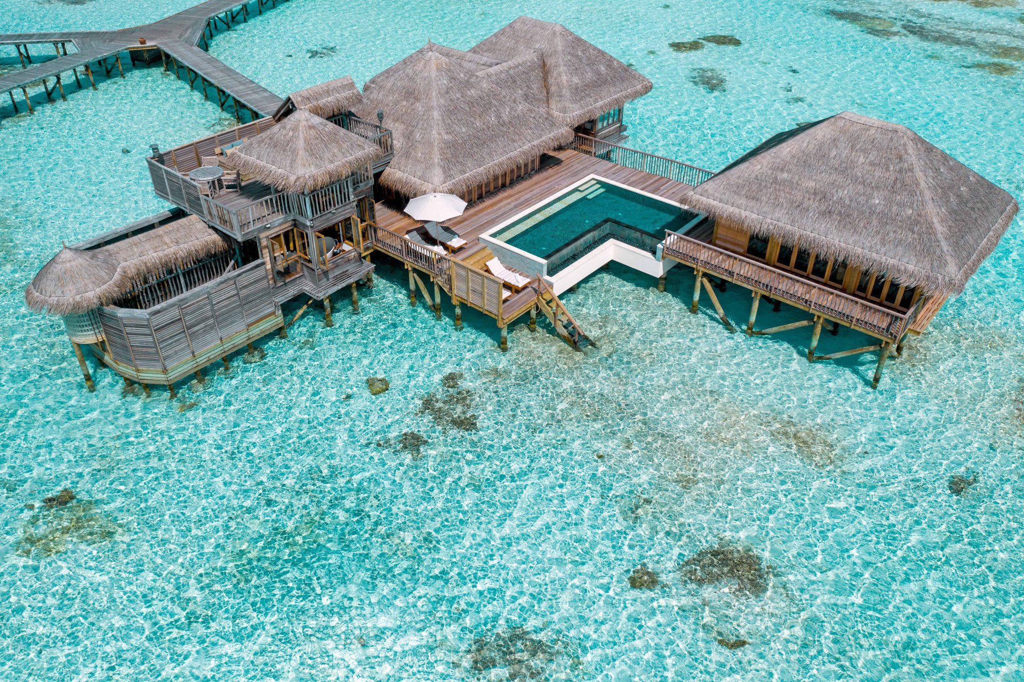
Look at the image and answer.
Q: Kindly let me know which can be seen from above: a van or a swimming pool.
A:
swimming pool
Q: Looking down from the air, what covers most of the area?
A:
water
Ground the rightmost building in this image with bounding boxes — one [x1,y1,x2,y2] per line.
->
[668,111,1024,384]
